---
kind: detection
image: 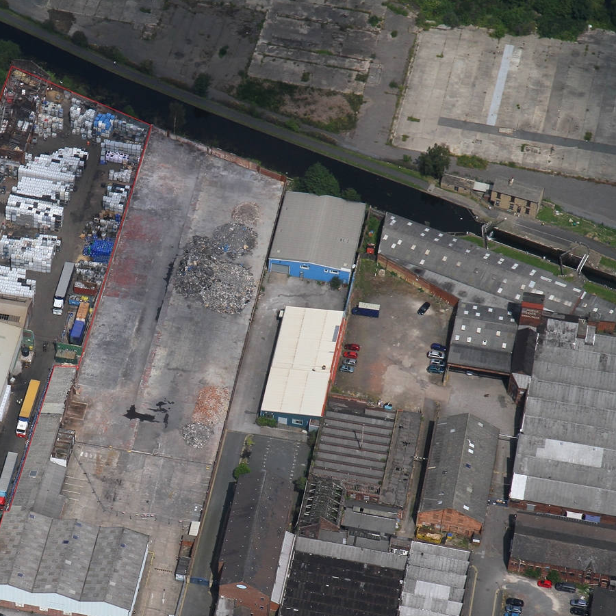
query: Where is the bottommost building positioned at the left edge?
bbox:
[0,508,150,616]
